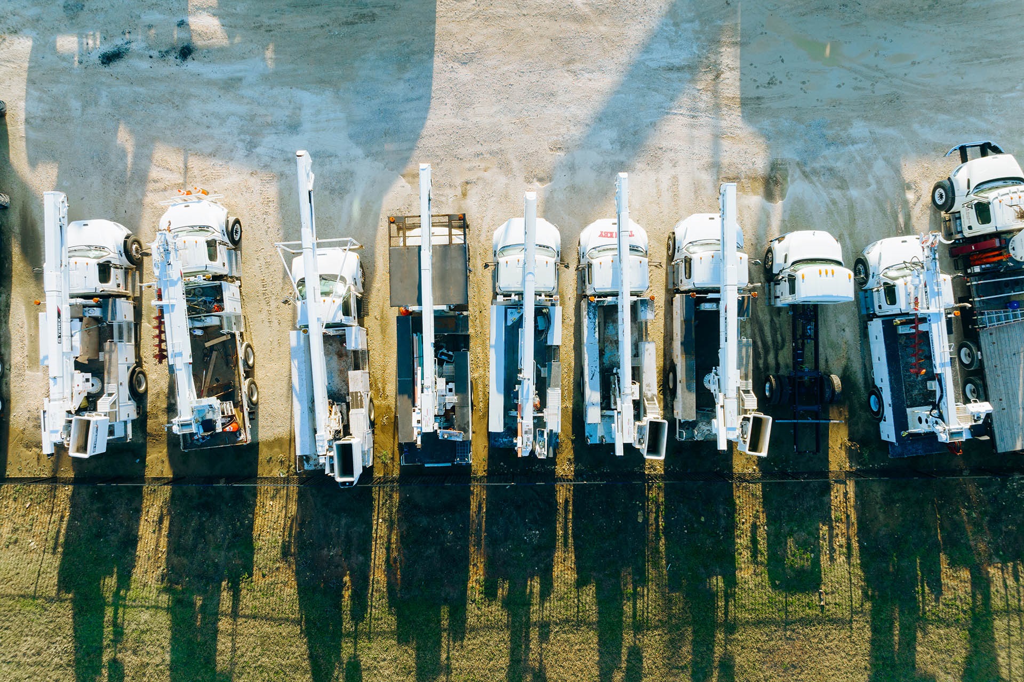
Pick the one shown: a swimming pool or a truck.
truck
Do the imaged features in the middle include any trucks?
Yes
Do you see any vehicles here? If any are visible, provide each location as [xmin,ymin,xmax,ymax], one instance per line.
[483,192,571,459]
[851,227,991,462]
[33,193,150,458]
[274,151,377,488]
[137,193,262,452]
[388,164,477,466]
[935,137,1024,454]
[665,183,773,457]
[574,173,668,460]
[760,226,861,452]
